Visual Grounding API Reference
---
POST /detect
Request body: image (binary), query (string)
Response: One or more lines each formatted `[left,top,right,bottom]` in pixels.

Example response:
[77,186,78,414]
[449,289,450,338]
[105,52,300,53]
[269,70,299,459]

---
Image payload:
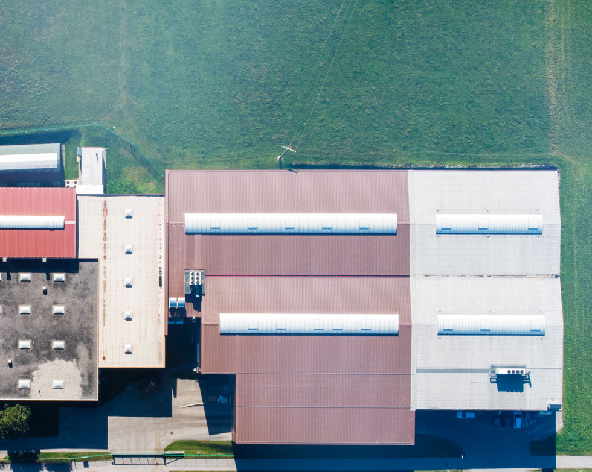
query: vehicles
[456,411,474,420]
[513,411,523,429]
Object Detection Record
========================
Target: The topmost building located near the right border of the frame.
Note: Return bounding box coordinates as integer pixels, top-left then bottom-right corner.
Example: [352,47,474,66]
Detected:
[409,170,563,411]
